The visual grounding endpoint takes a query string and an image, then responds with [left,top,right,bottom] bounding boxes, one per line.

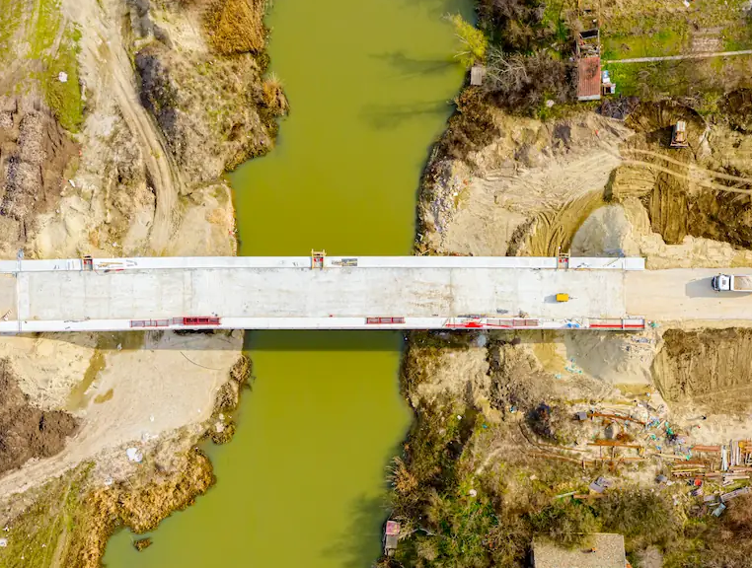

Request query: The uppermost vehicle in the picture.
[665,123,686,151]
